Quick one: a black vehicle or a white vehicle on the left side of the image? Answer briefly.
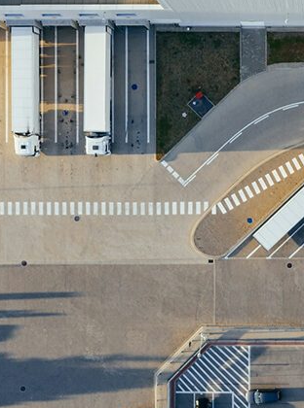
white vehicle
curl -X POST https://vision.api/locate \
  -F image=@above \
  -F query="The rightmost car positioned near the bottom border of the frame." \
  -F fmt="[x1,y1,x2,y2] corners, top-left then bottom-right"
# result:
[252,387,281,405]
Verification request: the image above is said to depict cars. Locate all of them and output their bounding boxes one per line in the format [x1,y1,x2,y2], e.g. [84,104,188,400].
[196,396,214,408]
[252,387,281,405]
